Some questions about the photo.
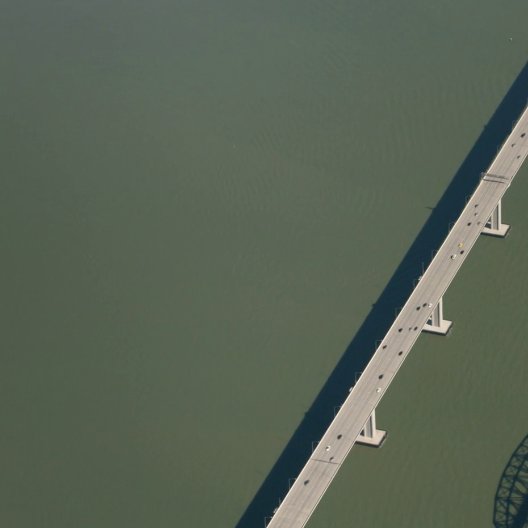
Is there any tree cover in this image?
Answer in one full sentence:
No, the scene doesn't show any tree cover.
